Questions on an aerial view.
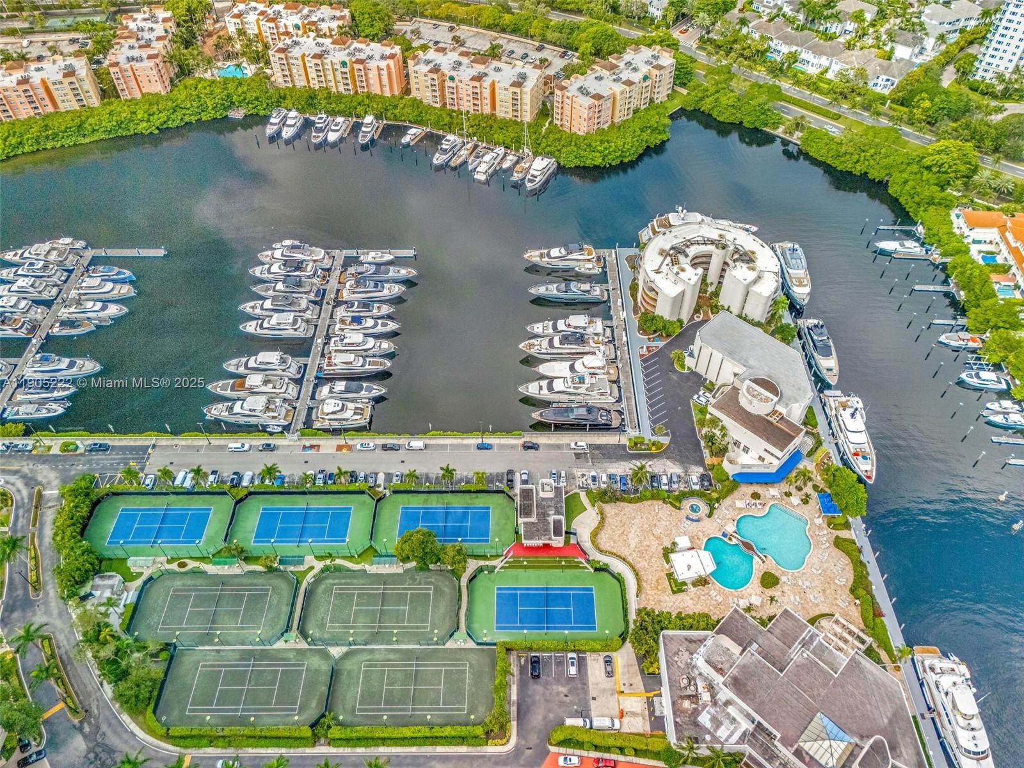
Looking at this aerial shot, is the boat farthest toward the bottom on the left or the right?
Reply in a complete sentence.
The boat farthest toward the bottom appears in the right half of the scene.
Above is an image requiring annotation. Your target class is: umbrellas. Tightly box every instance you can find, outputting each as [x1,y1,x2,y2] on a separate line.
[735,595,753,610]
[764,487,780,499]
[732,498,748,510]
[748,592,763,609]
[786,494,804,509]
[722,520,738,536]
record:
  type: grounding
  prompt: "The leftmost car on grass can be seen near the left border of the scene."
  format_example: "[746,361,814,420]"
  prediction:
[14,732,31,758]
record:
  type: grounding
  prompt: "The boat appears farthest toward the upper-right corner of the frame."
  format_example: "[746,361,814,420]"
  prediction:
[876,240,929,254]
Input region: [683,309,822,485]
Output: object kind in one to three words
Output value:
building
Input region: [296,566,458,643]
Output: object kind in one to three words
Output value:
tennis court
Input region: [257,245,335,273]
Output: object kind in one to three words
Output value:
boat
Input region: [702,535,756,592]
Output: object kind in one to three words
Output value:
swimming pool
